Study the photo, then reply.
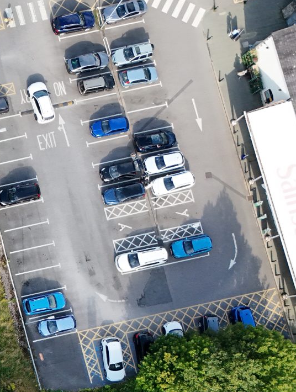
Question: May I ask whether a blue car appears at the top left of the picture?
Yes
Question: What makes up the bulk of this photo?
paved ground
